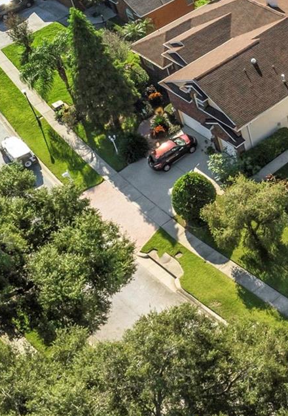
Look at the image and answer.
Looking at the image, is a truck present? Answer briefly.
No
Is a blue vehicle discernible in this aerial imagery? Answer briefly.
No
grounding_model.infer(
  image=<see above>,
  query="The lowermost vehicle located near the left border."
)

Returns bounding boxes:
[0,140,36,177]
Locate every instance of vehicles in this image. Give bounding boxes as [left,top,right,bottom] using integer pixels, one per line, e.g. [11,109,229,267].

[0,140,36,177]
[0,0,35,16]
[142,131,193,164]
